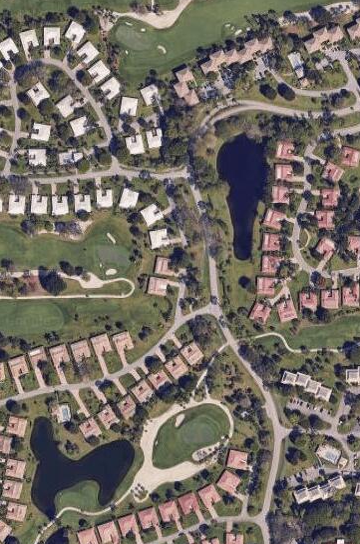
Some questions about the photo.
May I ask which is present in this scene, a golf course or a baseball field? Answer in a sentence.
Looking from above, you can make out a golf course.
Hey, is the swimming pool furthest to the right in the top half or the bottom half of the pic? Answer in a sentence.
It is in the bottom half that the swimming pool furthest to the right appears.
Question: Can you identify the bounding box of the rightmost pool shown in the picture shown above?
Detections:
[317,444,341,464]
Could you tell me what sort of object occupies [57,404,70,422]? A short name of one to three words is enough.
swimming pool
